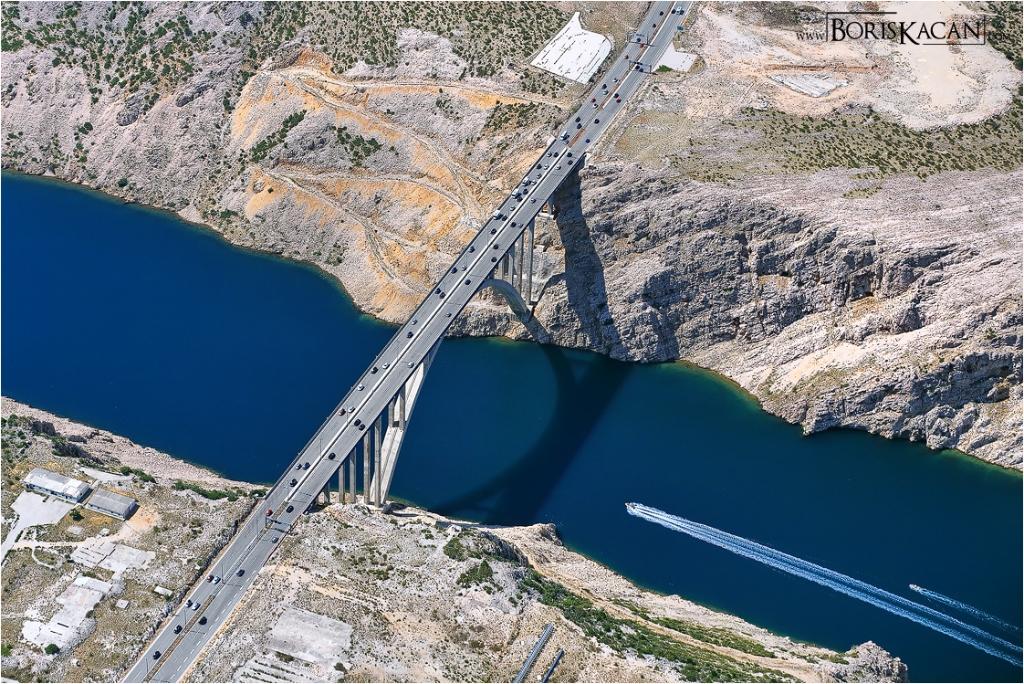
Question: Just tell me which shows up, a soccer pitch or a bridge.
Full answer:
There is a bridge in the scene.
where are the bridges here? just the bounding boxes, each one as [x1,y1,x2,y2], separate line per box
[262,132,599,513]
